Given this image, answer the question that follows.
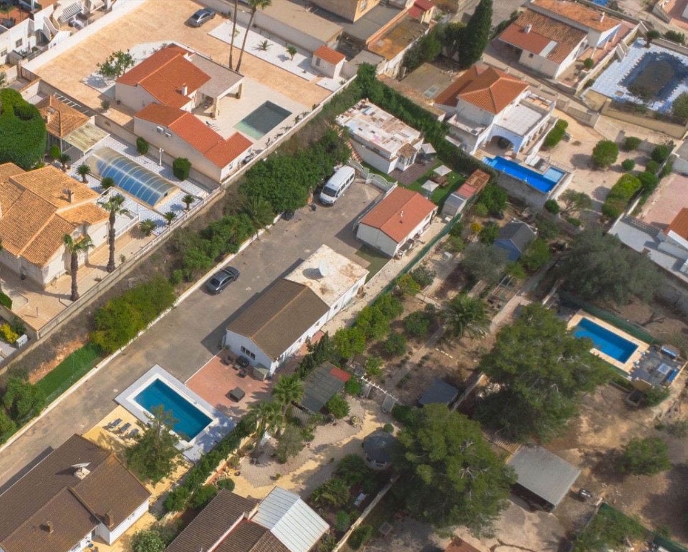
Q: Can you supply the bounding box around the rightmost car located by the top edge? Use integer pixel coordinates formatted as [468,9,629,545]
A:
[189,8,210,26]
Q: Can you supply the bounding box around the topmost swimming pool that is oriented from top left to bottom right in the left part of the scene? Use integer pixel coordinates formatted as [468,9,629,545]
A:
[85,147,177,210]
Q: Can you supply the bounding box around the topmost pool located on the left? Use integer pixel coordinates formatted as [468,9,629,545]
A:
[234,100,291,140]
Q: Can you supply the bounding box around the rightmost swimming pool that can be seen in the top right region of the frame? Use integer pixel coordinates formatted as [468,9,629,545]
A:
[619,51,688,103]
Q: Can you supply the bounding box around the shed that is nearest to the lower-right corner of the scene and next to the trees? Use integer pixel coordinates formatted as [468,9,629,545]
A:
[505,444,581,520]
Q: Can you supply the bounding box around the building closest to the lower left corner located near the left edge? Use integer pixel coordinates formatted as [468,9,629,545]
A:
[0,434,152,552]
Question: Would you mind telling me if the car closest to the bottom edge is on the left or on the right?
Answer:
left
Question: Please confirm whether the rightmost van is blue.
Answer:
No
